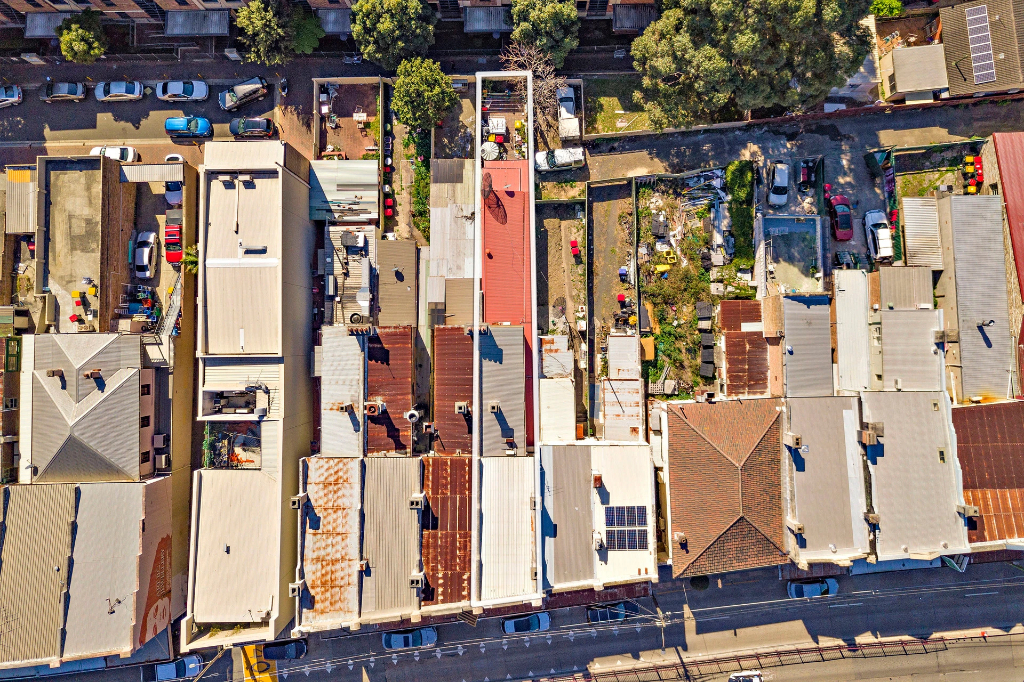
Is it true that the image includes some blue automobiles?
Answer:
Yes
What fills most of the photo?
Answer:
buildings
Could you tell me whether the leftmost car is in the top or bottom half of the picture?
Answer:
top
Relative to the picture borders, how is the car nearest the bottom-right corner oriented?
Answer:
from side to side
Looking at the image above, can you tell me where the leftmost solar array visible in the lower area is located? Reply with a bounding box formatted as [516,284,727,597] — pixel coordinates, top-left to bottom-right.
[605,507,647,550]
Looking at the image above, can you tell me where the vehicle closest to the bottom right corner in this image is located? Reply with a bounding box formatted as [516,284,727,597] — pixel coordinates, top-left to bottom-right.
[787,577,839,602]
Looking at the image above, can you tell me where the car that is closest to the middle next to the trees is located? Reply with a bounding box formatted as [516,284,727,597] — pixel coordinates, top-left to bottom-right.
[535,147,586,172]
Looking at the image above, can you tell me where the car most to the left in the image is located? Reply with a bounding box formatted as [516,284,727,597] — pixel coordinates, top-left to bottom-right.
[0,84,28,107]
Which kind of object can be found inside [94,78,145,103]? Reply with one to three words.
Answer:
car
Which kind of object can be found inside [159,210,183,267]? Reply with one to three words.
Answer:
vehicle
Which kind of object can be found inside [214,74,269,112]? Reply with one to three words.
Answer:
car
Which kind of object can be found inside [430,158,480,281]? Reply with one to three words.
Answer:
shed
